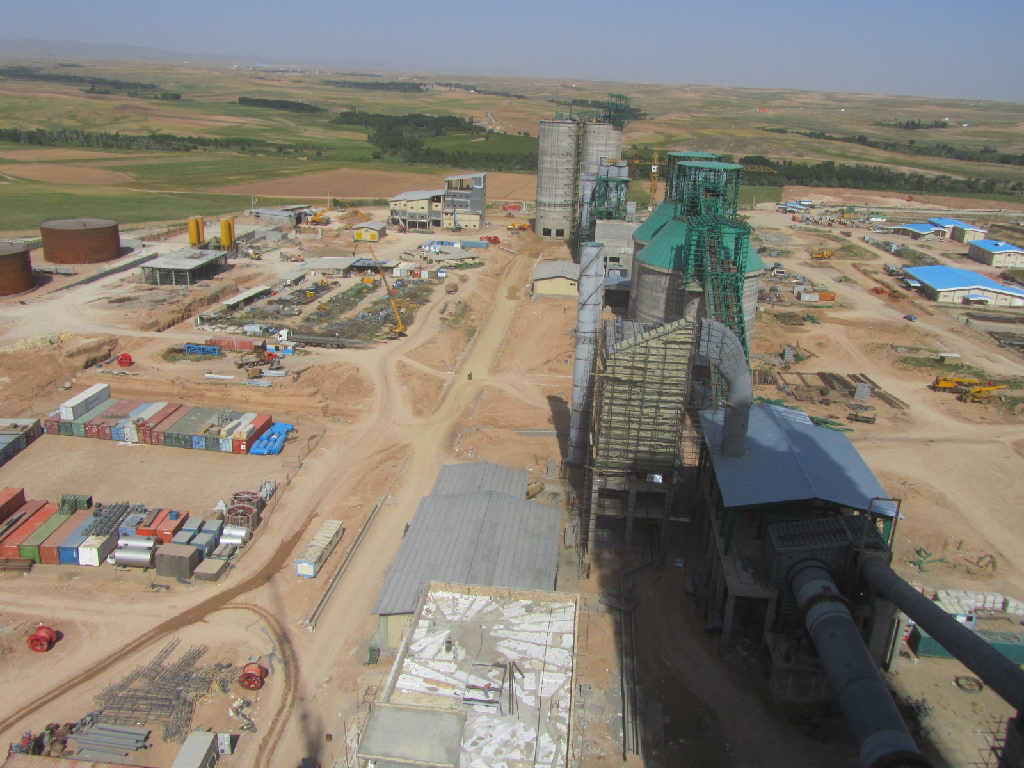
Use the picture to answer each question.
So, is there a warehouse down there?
Yes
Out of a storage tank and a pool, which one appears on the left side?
storage tank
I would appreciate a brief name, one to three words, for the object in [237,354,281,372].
vehicle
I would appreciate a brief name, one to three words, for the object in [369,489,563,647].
warehouse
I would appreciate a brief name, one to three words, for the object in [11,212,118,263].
storage tank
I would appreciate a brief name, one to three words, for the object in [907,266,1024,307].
building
